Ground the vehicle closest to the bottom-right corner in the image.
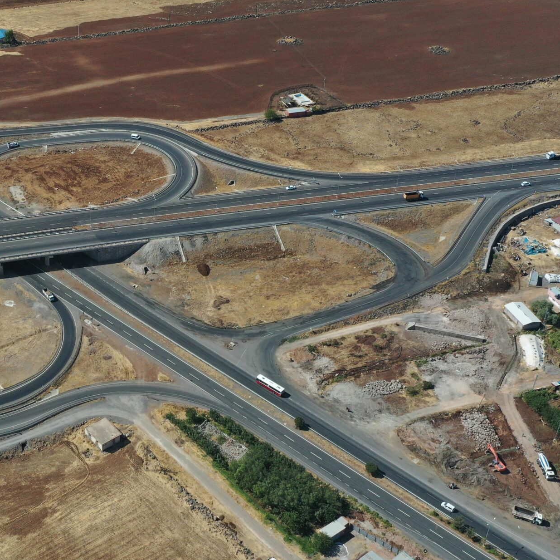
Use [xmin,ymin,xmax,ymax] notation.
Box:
[515,508,543,524]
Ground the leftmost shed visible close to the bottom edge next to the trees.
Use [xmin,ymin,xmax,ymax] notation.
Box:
[320,515,345,543]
